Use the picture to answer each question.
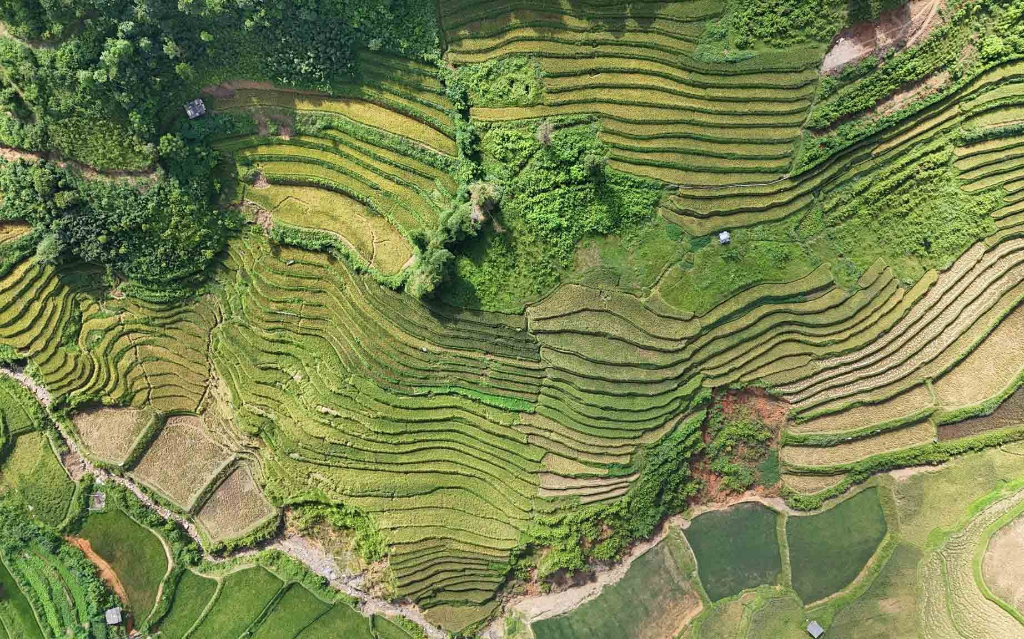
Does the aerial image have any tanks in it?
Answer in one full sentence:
No, the scene contains no tank.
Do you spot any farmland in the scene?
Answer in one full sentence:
Yes, some farmland is visible.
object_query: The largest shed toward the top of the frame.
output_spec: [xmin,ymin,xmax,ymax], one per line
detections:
[183,97,209,120]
